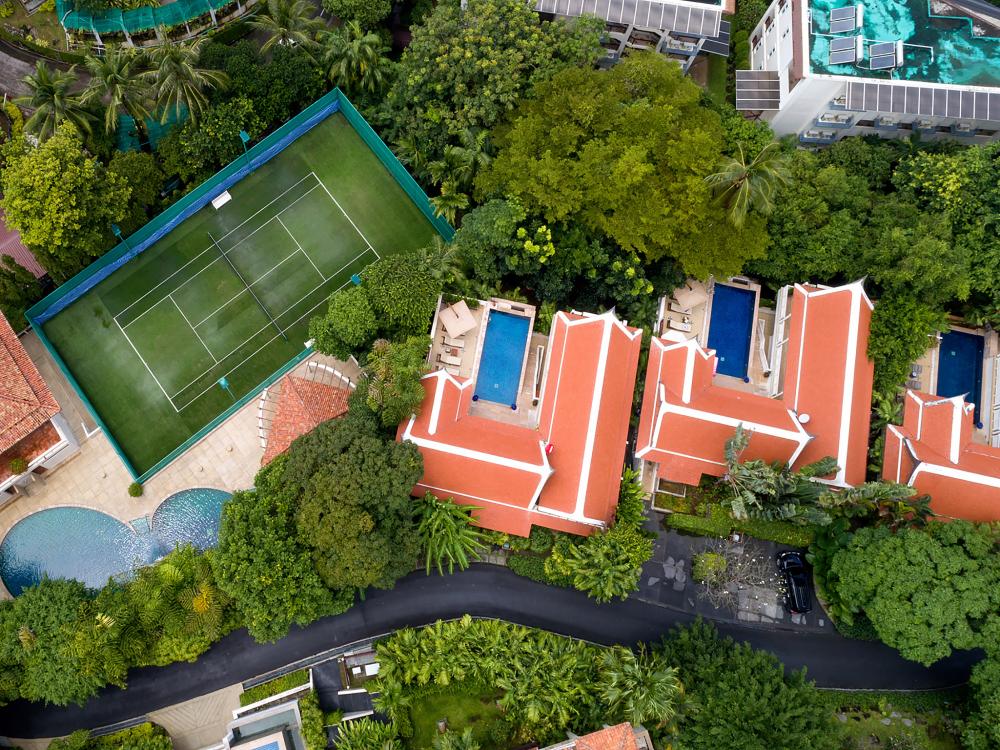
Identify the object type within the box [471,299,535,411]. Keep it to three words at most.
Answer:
swimming pool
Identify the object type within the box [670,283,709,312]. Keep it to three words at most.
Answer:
umbrella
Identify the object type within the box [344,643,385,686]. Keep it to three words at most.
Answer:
shed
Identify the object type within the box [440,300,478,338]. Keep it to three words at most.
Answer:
umbrella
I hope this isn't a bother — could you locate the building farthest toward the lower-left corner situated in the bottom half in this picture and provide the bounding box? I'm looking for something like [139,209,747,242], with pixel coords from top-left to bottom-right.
[195,699,309,750]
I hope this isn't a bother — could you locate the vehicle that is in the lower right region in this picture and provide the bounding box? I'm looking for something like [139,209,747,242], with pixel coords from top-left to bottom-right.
[777,552,811,609]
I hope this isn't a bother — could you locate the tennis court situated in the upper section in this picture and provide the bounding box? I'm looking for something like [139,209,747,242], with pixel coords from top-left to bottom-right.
[42,110,443,467]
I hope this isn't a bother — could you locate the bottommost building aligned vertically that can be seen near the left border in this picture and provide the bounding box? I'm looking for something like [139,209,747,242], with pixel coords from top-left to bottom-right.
[0,307,89,509]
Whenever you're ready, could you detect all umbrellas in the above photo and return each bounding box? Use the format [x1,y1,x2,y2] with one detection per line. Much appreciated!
[670,283,709,312]
[440,300,478,338]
